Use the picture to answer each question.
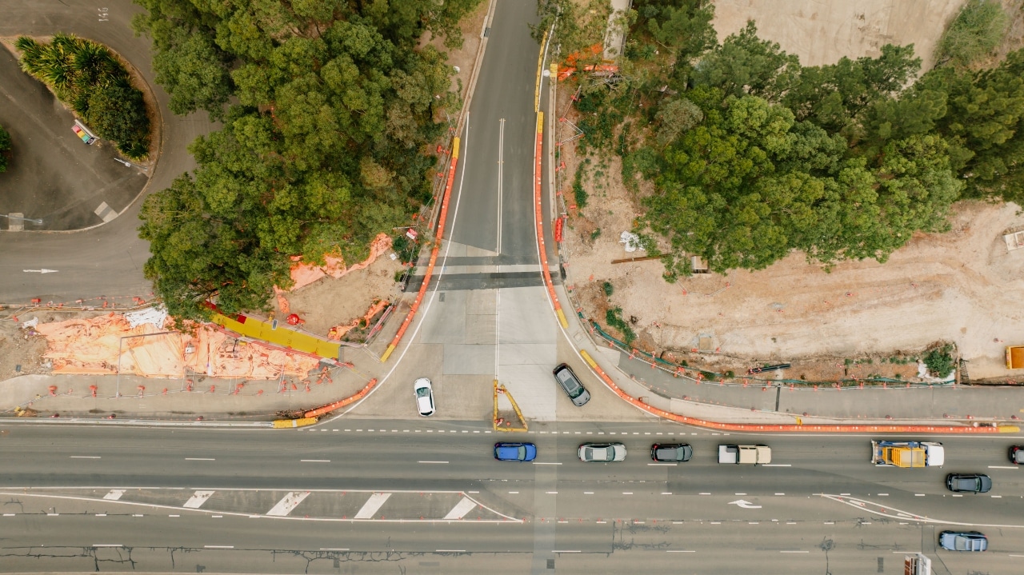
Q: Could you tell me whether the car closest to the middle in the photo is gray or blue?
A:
gray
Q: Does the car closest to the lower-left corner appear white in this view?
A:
Yes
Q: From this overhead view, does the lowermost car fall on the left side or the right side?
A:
right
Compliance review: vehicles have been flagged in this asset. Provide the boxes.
[1004,444,1024,464]
[869,440,949,473]
[944,471,991,495]
[494,441,537,464]
[413,377,436,418]
[553,361,589,408]
[650,442,692,464]
[937,529,990,553]
[717,444,772,467]
[578,441,625,464]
